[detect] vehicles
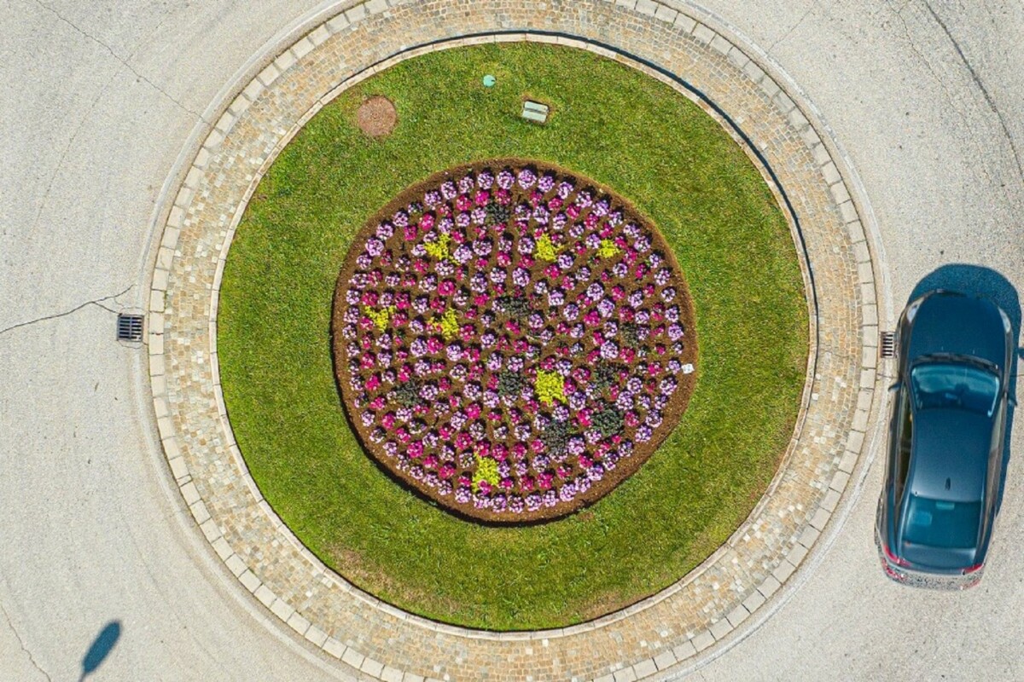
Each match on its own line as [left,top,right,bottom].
[873,289,1022,590]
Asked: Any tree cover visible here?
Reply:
No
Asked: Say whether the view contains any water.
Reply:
No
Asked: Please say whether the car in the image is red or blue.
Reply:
blue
